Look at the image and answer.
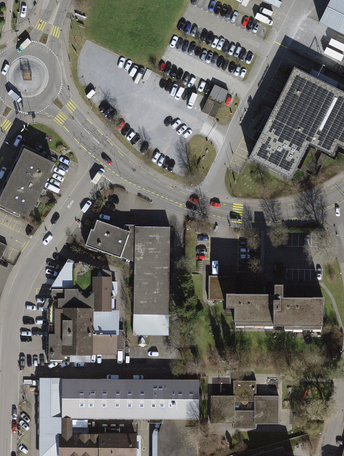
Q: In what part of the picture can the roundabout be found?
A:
top left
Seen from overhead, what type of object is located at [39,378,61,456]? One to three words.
building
